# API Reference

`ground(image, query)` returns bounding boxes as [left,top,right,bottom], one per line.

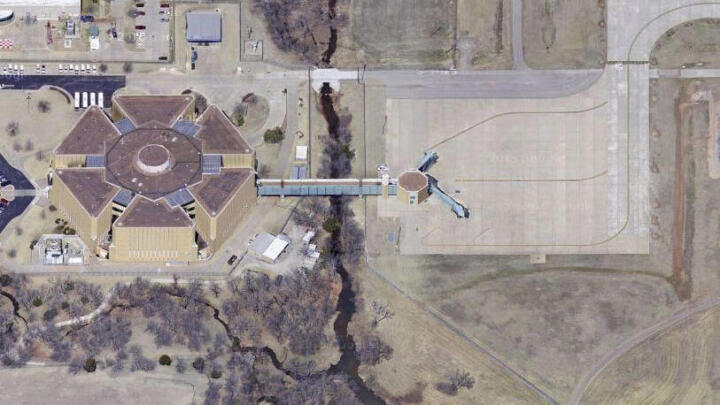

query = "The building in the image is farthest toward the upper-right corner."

[398,170,428,205]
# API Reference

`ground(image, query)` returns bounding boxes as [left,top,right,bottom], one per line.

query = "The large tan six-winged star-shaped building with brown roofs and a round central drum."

[46,96,255,264]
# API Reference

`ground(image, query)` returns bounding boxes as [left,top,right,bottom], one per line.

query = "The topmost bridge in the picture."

[311,68,358,94]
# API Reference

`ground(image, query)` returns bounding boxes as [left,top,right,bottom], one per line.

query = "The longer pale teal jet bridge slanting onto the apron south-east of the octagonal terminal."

[428,179,468,220]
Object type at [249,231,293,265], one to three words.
building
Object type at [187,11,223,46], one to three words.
building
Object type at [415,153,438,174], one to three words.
jet bridge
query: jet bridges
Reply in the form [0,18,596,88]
[428,179,468,220]
[415,153,438,174]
